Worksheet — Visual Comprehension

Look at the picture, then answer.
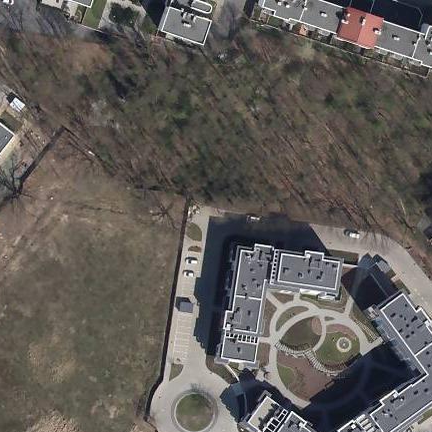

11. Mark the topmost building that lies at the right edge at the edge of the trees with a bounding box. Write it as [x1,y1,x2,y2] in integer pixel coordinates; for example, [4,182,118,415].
[263,0,432,68]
